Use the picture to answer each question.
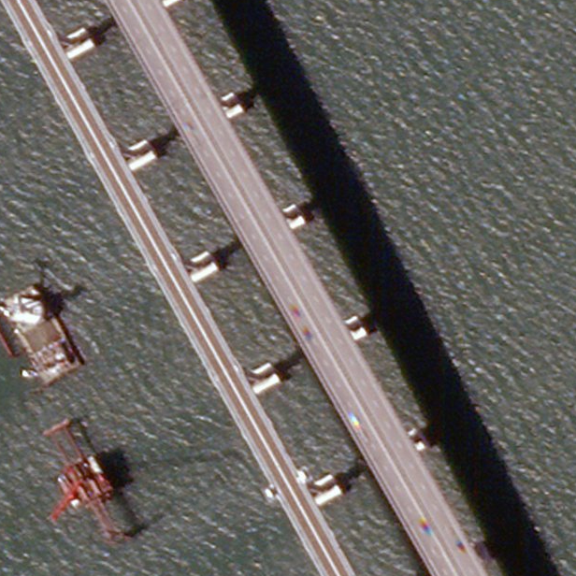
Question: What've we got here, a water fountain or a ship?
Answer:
ship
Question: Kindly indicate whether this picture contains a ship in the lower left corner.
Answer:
Yes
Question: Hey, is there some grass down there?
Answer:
No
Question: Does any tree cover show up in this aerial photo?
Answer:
No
